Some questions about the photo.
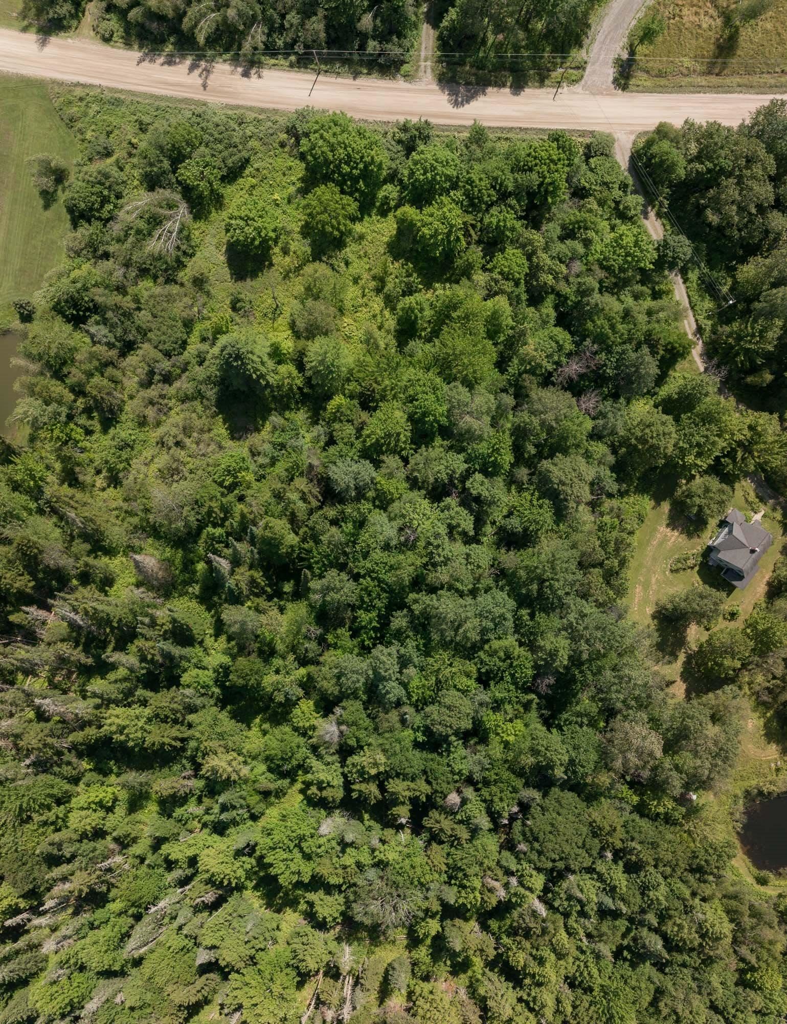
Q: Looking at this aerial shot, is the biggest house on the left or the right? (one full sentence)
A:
You can find the biggest house on the right side of the picture.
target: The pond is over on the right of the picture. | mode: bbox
[734,796,787,875]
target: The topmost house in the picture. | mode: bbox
[706,509,777,593]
